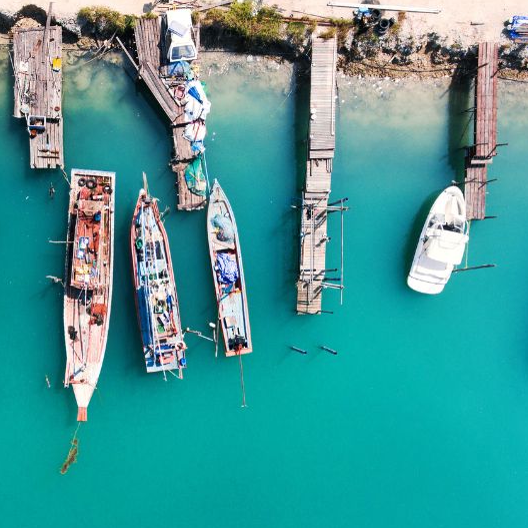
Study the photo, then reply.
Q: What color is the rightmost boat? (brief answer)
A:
white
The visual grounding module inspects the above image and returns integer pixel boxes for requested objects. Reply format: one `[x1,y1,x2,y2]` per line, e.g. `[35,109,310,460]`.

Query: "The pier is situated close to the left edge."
[7,29,66,169]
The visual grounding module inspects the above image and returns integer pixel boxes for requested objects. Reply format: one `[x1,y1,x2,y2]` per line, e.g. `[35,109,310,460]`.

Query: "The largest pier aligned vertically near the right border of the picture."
[454,43,512,220]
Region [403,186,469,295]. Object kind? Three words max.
boat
